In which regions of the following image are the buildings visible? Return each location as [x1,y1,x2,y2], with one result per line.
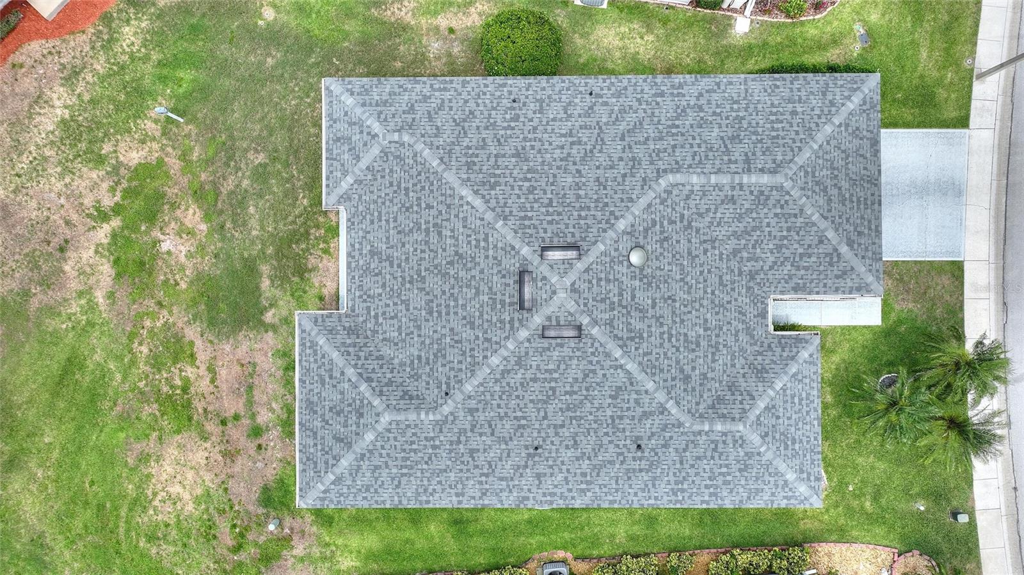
[293,72,883,510]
